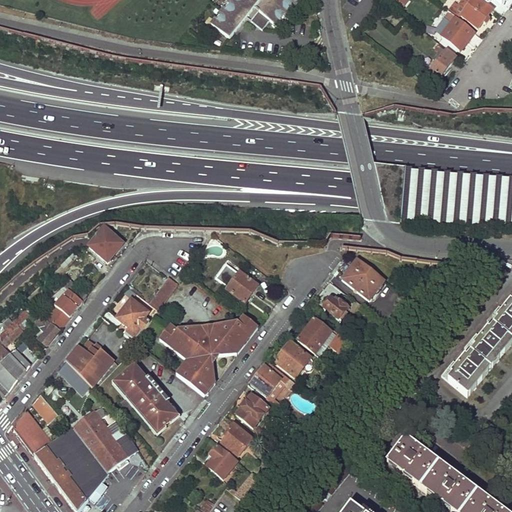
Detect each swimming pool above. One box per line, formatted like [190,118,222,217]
[289,393,314,416]
[204,240,230,261]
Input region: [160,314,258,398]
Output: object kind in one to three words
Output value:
building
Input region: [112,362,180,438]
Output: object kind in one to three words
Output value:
house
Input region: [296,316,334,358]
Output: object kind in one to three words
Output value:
house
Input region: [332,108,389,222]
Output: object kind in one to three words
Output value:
overpass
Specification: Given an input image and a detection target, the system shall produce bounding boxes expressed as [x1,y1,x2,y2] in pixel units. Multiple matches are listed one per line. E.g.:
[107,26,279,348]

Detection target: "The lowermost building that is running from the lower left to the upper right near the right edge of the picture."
[440,288,512,399]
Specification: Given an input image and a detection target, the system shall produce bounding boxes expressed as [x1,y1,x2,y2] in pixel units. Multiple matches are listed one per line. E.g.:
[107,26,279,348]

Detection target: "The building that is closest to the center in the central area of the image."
[226,270,260,304]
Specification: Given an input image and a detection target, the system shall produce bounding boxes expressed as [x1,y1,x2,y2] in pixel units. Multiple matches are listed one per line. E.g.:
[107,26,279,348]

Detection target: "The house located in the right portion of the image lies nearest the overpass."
[340,256,386,305]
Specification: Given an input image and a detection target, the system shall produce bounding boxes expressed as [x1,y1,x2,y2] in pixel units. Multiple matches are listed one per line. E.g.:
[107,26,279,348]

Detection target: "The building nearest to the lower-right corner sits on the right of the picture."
[383,434,511,512]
